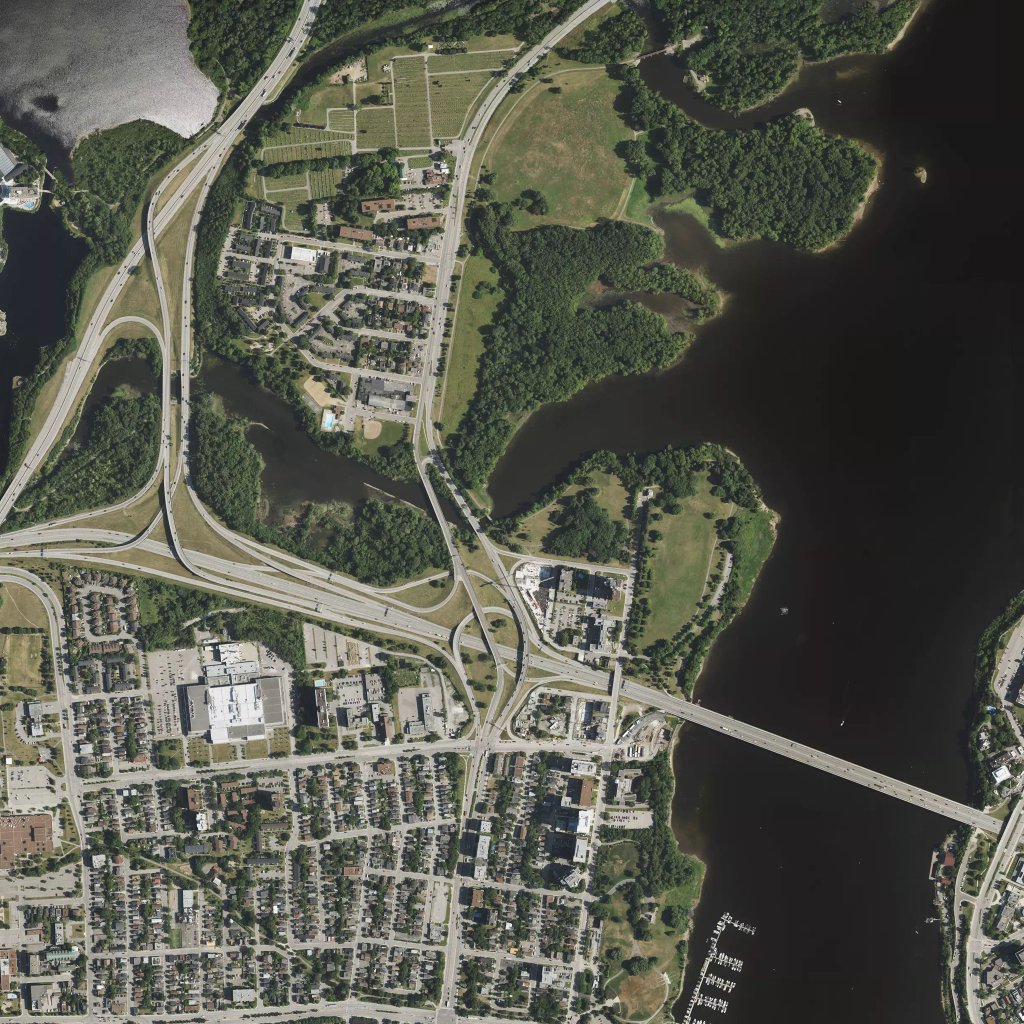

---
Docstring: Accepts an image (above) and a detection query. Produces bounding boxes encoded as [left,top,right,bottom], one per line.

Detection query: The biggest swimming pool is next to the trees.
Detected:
[321,409,336,432]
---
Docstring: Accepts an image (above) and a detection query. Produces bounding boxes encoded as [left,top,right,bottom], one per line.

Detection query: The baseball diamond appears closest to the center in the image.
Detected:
[355,418,412,453]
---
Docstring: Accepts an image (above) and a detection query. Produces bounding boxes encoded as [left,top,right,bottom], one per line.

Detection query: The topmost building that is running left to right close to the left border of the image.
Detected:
[8,185,39,198]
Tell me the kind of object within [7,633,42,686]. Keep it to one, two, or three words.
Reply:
soccer field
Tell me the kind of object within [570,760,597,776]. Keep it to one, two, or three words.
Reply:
building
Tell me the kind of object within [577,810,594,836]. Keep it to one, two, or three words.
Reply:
building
